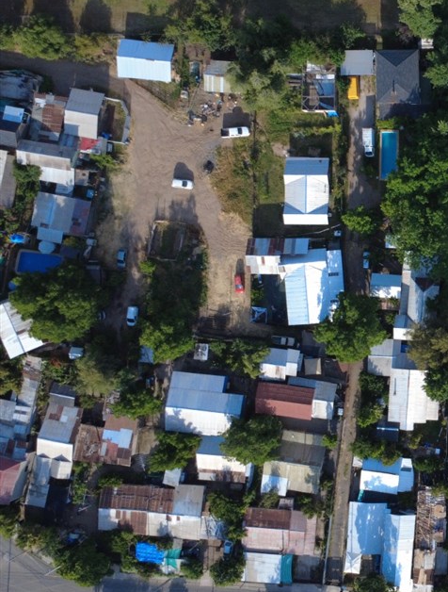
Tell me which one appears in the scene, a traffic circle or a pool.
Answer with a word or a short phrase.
pool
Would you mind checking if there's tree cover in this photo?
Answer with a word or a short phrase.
Yes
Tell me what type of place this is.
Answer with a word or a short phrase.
residential area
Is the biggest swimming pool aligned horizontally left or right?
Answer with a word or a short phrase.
left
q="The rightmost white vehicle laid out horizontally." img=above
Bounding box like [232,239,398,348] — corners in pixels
[222,126,250,138]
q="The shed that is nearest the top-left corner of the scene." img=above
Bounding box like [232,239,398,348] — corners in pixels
[0,68,49,101]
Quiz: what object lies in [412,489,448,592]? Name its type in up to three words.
shed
